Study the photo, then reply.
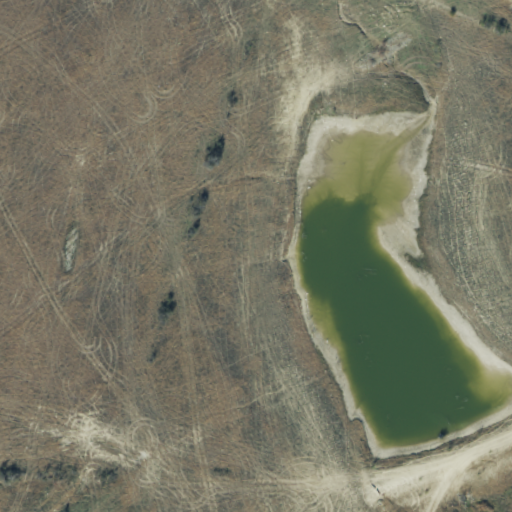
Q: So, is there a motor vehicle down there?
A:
No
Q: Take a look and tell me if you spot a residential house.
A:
No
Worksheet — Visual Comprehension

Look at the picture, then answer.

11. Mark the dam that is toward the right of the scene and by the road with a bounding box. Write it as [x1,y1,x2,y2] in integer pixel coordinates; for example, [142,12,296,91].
[374,415,512,468]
